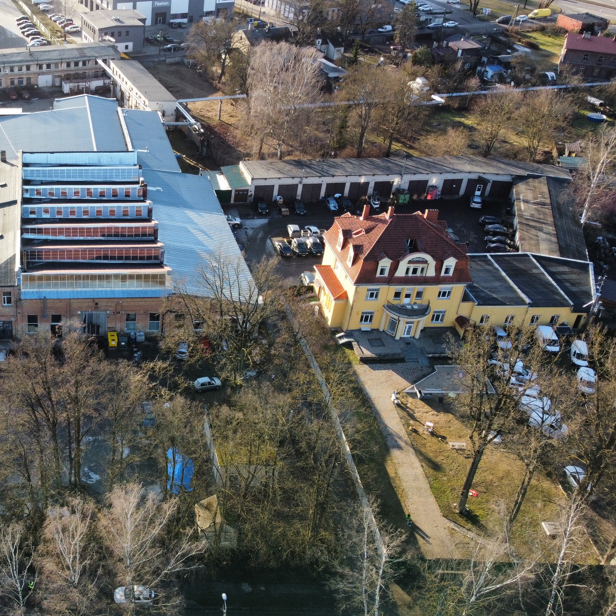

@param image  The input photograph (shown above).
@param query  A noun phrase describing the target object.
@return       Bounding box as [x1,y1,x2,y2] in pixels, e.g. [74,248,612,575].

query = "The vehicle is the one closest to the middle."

[299,270,313,288]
